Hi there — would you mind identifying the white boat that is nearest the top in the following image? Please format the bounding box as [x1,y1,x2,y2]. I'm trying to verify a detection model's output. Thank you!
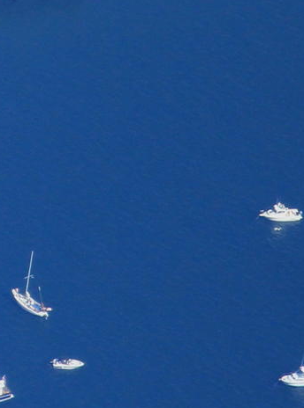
[255,198,303,223]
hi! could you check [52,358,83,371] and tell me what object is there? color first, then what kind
white boat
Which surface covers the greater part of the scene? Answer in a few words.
water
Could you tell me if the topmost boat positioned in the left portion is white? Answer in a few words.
Yes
